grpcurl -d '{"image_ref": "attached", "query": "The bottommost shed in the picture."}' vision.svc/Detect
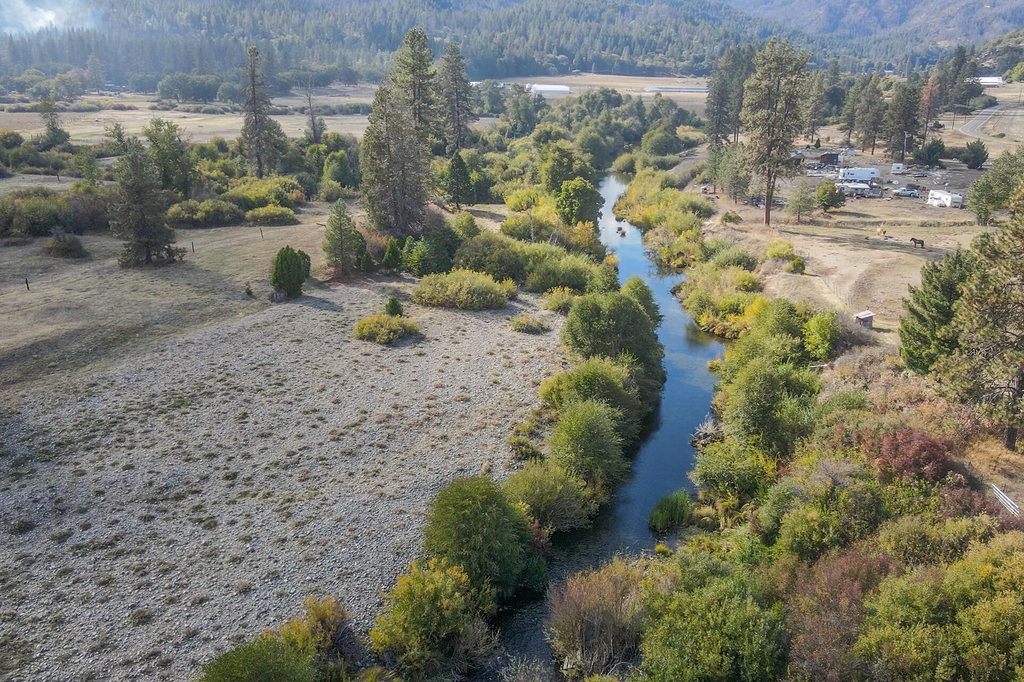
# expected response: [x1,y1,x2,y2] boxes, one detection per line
[852,298,879,327]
